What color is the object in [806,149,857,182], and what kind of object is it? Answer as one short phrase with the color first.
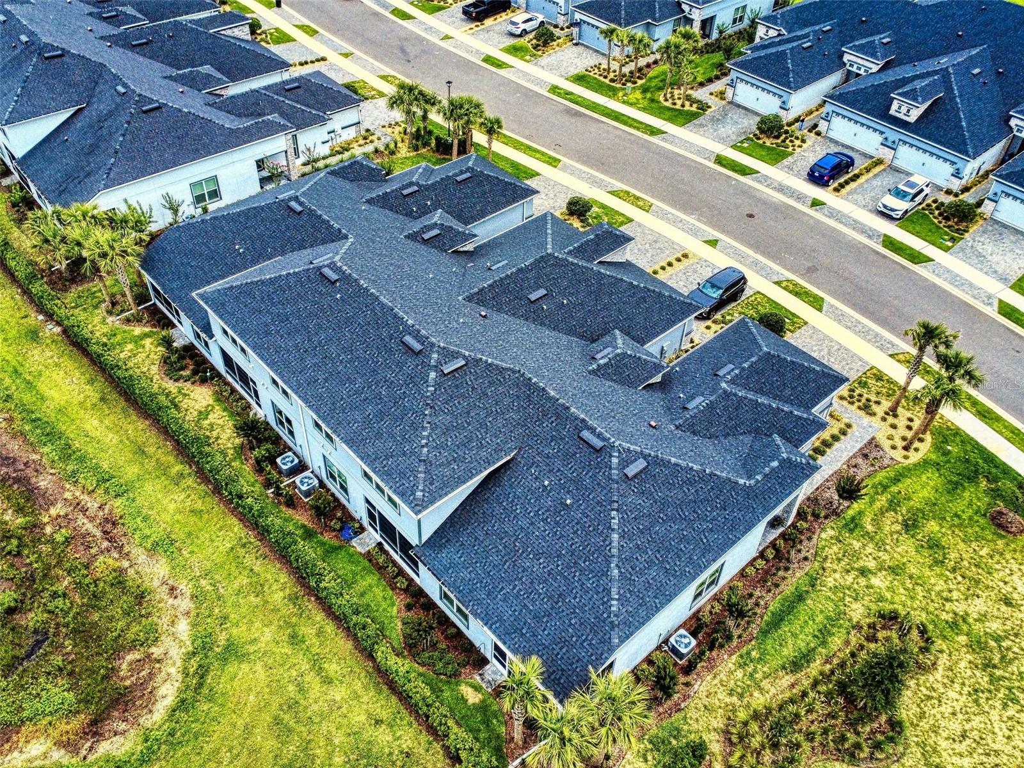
blue car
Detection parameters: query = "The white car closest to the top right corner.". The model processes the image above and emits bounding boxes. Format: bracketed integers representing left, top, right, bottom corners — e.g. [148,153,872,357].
[879,171,934,216]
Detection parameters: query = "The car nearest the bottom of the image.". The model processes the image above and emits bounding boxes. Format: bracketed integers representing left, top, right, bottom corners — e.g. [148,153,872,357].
[689,265,752,319]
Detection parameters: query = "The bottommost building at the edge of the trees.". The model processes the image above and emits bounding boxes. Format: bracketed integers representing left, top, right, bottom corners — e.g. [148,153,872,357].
[103,154,854,727]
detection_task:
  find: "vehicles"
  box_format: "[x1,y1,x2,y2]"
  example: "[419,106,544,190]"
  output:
[466,0,516,18]
[879,171,934,216]
[506,10,546,34]
[806,149,857,182]
[689,265,752,319]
